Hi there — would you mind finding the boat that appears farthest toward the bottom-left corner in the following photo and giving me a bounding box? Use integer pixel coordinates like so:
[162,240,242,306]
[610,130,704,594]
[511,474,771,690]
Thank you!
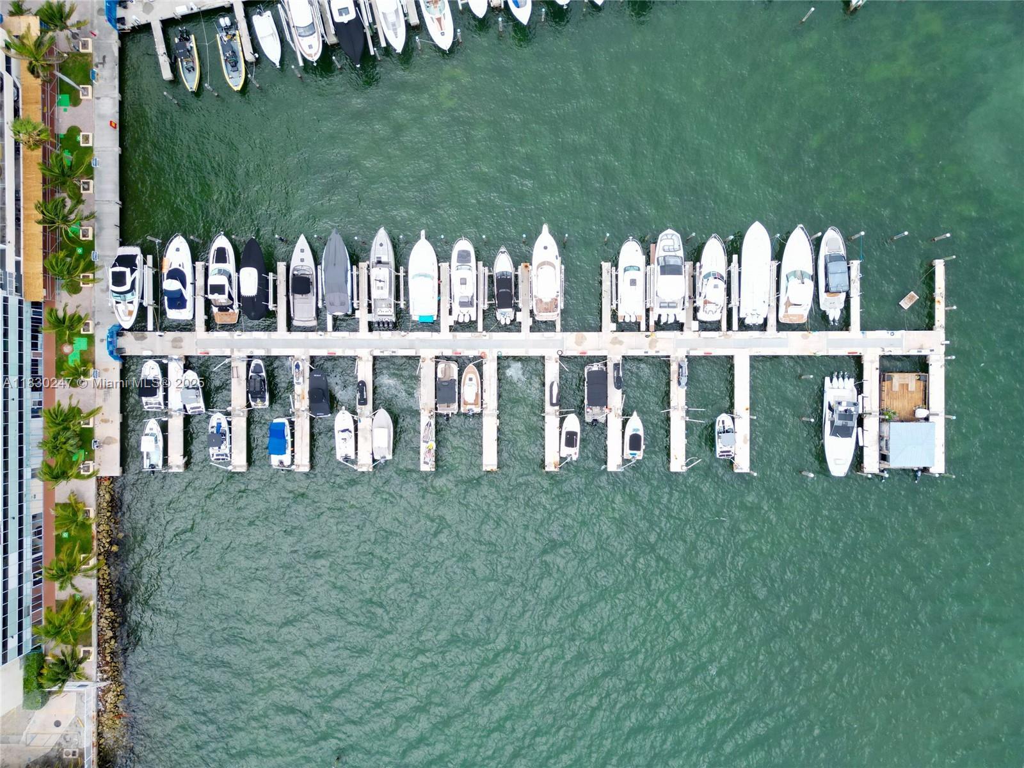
[141,419,167,475]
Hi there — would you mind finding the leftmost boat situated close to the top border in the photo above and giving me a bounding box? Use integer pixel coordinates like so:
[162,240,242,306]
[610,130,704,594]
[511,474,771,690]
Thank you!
[172,30,203,92]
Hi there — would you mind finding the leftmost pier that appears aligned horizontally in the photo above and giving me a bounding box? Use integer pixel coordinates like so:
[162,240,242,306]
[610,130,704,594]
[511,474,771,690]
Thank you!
[120,0,266,34]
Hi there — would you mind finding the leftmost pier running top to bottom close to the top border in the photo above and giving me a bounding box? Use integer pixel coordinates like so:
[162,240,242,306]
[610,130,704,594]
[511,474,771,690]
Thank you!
[151,20,176,82]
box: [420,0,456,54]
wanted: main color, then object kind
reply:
white boat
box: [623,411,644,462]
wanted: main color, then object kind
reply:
white boat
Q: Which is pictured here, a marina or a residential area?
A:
marina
